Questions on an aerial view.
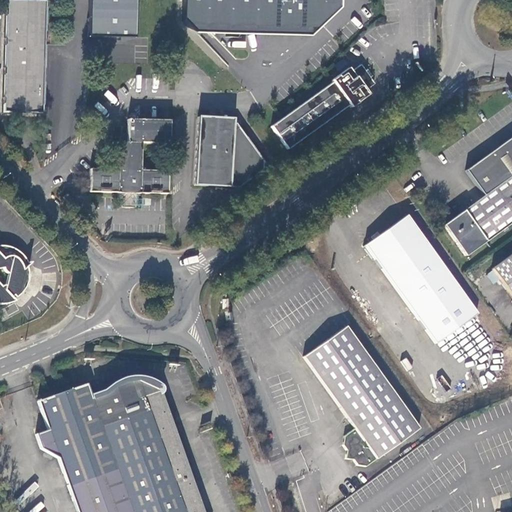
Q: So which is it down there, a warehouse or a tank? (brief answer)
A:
warehouse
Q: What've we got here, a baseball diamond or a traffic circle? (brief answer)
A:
traffic circle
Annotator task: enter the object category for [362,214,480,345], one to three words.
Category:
warehouse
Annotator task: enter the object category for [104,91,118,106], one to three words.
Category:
vehicle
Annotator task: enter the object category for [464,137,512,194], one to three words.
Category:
building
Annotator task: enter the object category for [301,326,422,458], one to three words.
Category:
building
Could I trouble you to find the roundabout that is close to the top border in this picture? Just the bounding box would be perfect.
[440,0,512,84]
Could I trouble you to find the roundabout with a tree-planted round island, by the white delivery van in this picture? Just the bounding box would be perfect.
[90,252,196,344]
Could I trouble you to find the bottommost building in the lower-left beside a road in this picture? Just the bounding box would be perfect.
[33,374,206,512]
